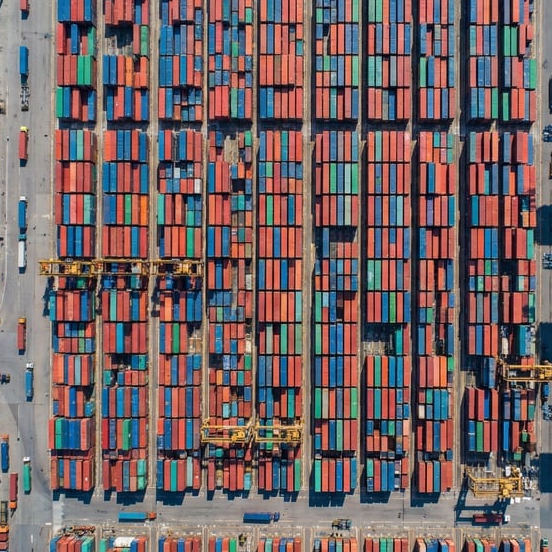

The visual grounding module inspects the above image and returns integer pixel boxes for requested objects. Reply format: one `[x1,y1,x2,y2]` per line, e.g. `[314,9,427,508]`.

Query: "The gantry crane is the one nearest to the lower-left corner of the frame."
[201,415,253,443]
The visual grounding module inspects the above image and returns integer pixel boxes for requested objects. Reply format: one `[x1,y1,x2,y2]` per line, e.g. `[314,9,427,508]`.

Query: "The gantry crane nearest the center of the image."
[149,257,209,279]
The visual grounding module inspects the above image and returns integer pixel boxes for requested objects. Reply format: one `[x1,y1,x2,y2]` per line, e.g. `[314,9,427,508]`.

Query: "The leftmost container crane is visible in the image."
[39,257,102,279]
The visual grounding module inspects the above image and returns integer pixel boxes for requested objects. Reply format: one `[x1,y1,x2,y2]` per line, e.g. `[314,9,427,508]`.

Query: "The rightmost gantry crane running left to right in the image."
[496,358,552,383]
